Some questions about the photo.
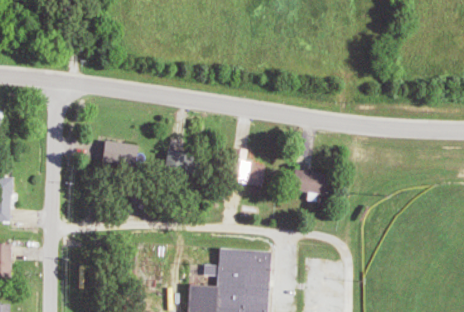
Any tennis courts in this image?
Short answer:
No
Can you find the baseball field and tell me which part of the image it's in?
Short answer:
bottom right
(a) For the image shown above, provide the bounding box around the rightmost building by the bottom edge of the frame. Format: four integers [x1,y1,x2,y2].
[188,249,272,312]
